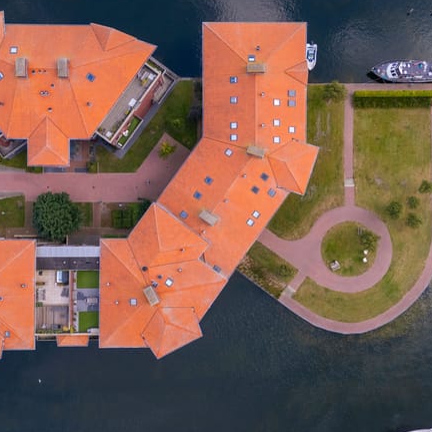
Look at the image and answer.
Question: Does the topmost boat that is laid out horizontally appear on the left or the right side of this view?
right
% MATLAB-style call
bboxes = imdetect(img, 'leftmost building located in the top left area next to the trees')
[0,11,156,166]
